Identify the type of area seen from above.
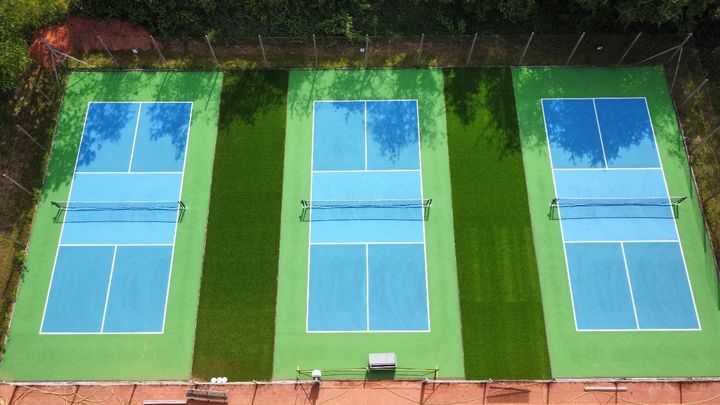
sports ground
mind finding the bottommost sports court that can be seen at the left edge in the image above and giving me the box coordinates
[0,70,222,382]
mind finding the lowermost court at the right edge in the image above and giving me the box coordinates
[513,65,720,378]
